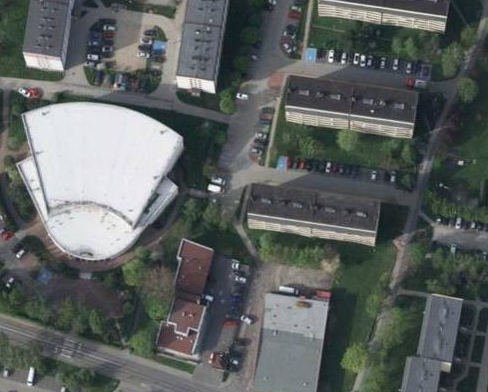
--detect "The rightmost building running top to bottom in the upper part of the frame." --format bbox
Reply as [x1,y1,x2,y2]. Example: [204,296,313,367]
[176,0,229,93]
